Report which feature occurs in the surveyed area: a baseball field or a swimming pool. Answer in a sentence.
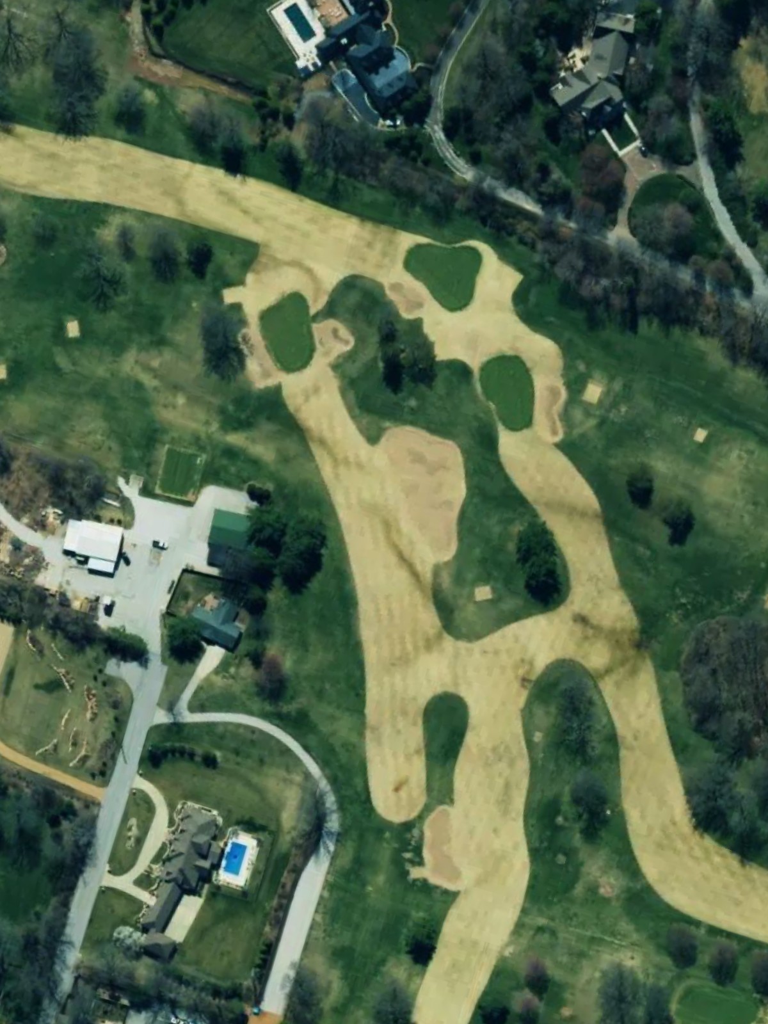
There is a swimming pool in the scene.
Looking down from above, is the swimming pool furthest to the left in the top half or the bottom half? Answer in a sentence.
The swimming pool furthest to the left sits in the bottom half of the picture.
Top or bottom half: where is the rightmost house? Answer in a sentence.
The rightmost house is in the top half of the image.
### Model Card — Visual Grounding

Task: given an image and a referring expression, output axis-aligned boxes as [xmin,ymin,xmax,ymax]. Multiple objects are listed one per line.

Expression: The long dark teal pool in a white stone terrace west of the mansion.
[270,0,325,70]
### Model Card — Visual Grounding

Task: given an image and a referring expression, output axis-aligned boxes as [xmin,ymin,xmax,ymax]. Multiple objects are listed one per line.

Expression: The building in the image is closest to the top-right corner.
[547,0,641,116]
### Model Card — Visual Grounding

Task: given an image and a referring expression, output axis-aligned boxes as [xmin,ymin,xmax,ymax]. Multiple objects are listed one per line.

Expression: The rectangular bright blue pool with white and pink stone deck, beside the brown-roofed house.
[216,832,258,886]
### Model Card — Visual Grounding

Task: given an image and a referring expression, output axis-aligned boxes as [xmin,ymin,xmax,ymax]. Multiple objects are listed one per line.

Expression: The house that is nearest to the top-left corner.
[313,0,413,97]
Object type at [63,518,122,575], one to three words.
shed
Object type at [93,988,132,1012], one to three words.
house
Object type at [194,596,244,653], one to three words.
house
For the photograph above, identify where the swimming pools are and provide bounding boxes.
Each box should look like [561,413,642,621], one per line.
[216,832,258,886]
[270,0,325,70]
